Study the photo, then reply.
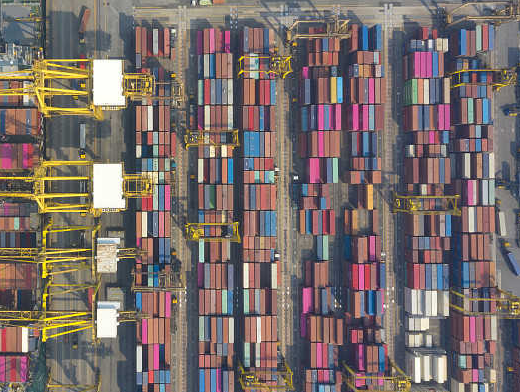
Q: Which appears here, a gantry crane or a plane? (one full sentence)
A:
This aerial view contains a gantry crane.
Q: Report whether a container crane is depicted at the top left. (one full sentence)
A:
Yes, there is a container crane at the top left.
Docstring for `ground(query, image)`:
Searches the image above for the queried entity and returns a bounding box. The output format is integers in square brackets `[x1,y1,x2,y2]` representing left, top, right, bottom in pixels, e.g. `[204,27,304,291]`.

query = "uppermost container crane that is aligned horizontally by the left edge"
[0,59,153,127]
